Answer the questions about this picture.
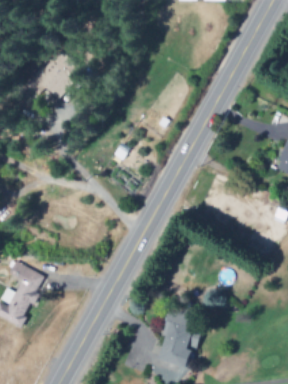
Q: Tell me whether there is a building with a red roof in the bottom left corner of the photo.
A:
No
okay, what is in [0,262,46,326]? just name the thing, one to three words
house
